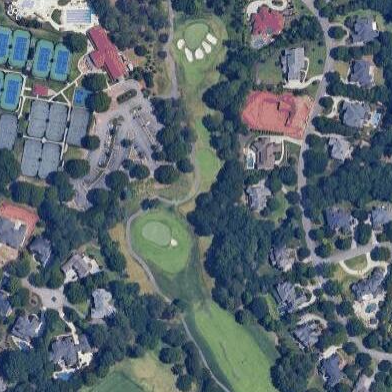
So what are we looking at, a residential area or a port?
residential area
